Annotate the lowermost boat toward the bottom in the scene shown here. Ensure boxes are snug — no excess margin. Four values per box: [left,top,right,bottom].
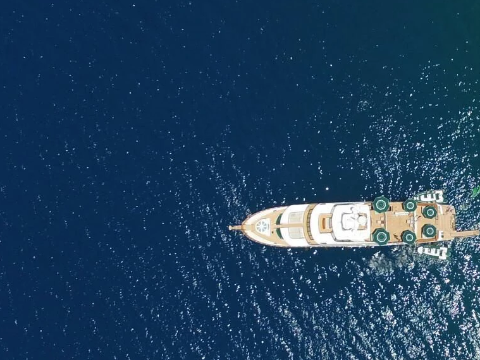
[416,244,454,259]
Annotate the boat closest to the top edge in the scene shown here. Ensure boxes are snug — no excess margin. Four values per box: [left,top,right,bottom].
[412,189,450,202]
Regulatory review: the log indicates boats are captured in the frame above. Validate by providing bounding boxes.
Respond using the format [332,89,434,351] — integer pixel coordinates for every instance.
[228,201,480,247]
[412,189,450,202]
[416,244,454,259]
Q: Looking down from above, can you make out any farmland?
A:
No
